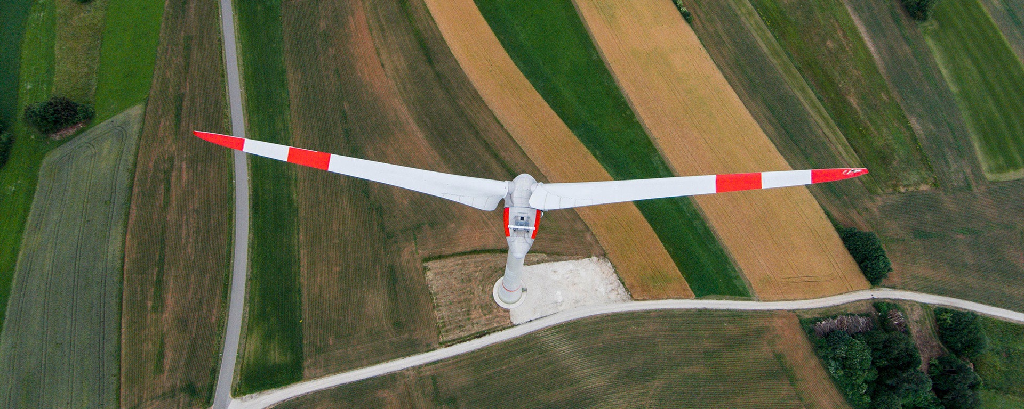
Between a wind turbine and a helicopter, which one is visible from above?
wind turbine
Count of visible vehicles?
none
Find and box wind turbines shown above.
[192,130,868,309]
